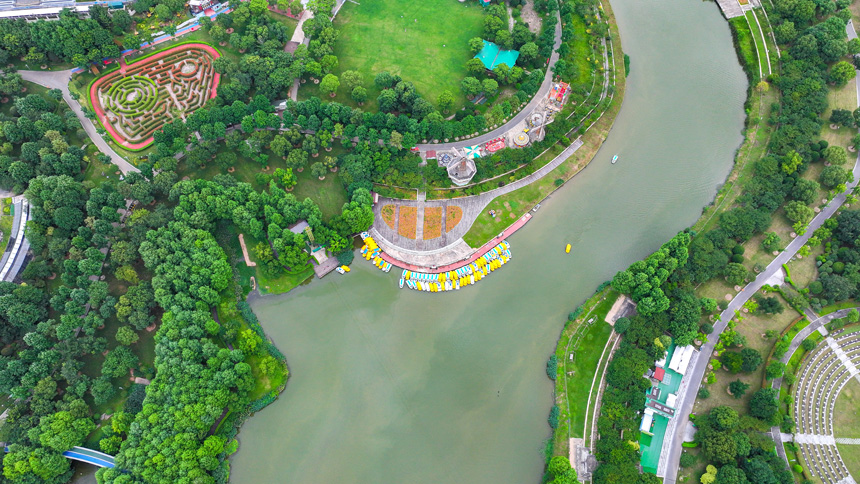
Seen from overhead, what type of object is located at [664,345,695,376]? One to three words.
building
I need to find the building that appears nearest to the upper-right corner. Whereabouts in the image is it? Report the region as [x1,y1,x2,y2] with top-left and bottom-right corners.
[546,79,571,107]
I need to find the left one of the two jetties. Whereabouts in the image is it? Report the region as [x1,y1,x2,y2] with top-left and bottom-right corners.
[313,249,338,279]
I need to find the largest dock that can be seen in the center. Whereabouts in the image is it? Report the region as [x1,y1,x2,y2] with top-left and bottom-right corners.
[379,213,532,274]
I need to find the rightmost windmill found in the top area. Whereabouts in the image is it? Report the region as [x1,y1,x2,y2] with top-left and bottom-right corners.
[530,108,557,143]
